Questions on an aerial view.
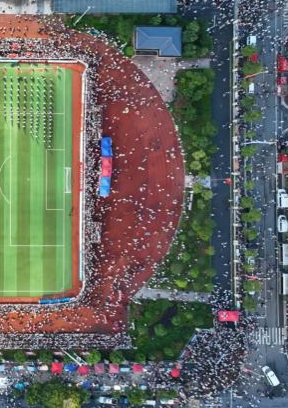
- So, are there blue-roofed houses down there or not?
Yes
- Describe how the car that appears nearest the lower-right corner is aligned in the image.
at an angle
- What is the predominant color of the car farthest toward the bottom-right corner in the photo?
white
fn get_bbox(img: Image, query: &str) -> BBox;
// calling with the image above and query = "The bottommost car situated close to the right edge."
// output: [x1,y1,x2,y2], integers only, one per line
[258,363,279,385]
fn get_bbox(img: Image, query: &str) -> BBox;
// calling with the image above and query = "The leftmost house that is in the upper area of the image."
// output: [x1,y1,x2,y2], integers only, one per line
[130,28,180,59]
